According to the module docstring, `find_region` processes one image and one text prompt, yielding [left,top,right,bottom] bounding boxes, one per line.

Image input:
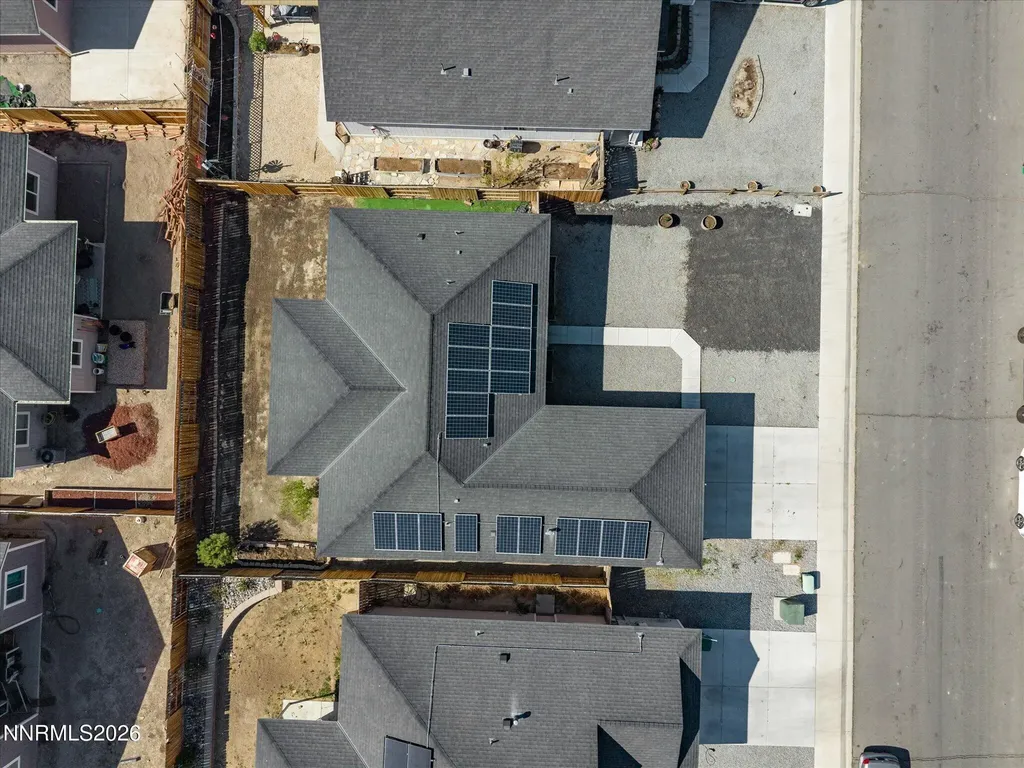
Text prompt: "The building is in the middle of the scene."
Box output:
[266,206,707,569]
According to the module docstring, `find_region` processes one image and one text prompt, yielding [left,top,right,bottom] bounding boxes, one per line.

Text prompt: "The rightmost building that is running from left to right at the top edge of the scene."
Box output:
[316,0,662,145]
